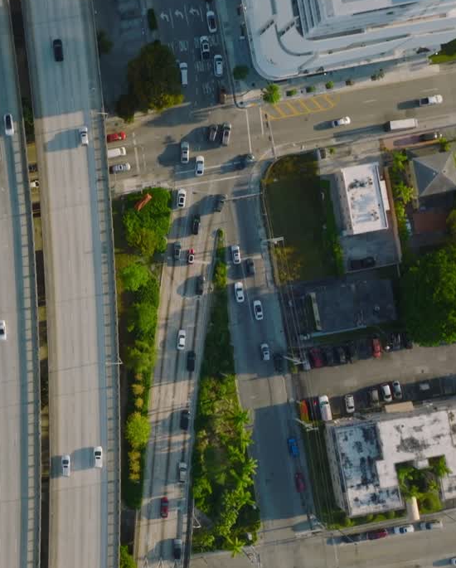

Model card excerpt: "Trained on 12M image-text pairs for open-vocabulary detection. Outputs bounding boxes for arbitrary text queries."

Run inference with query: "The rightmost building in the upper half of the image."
[405,151,456,198]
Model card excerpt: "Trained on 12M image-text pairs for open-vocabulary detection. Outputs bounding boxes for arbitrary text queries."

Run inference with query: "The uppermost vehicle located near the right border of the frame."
[415,94,440,107]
